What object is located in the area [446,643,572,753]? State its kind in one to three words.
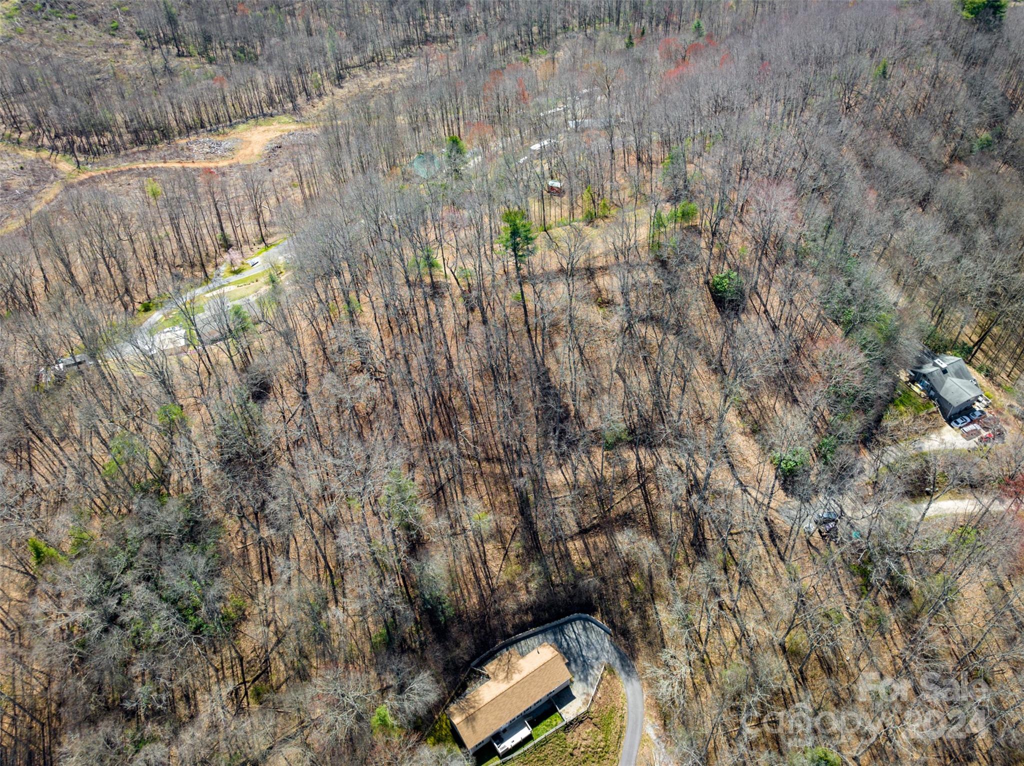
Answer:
house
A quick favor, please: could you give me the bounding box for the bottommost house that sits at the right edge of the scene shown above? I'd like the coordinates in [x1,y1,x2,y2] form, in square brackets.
[891,352,984,421]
